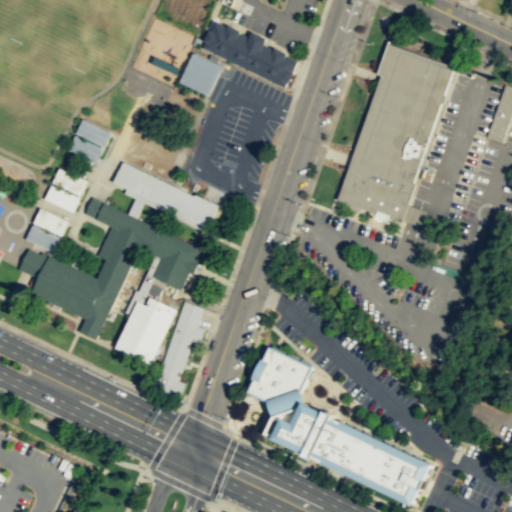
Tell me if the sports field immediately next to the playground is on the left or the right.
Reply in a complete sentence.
You can find the sports field immediately next to the playground on the left side of the picture.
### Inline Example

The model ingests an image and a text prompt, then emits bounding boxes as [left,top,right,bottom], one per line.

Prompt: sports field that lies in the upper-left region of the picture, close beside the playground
[0,0,154,165]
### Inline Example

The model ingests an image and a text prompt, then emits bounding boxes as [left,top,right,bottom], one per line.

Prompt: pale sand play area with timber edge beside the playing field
[133,19,194,88]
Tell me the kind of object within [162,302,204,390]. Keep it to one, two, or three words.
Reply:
building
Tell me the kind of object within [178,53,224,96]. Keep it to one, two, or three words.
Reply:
building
